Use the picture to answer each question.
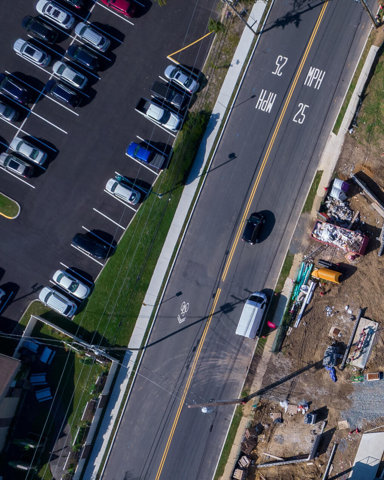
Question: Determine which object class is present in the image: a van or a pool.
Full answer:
I can see a van in this picture.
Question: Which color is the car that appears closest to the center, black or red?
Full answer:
The car that appears closest to the center is black.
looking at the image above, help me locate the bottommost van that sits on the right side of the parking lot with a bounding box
[231,290,268,341]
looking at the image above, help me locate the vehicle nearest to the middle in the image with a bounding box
[240,210,267,248]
